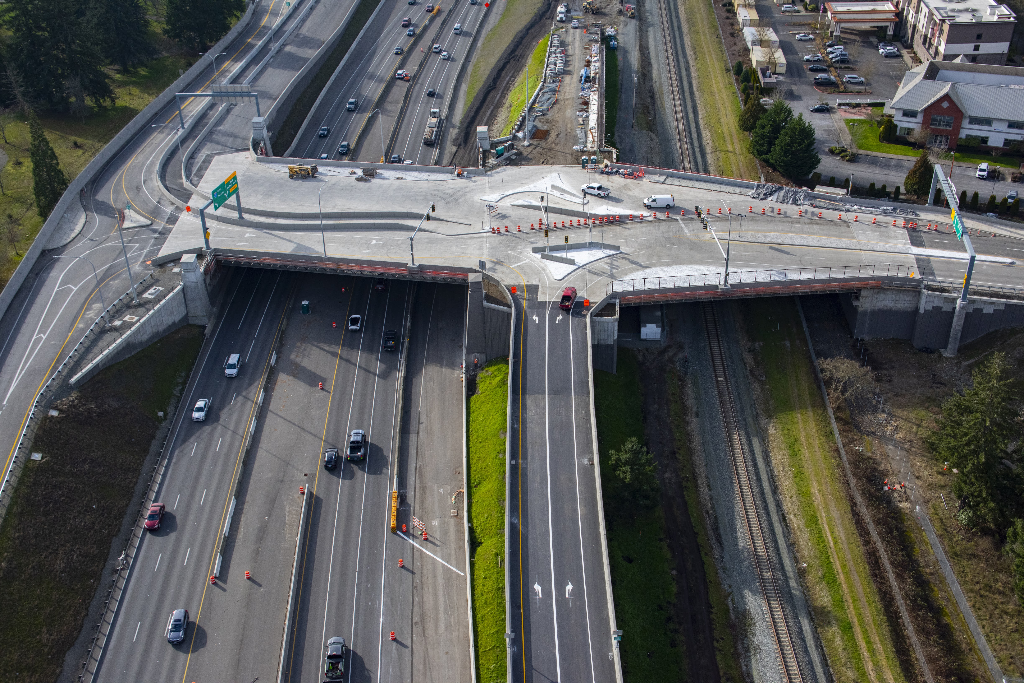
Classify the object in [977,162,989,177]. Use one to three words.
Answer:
vehicle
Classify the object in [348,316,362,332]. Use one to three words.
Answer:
car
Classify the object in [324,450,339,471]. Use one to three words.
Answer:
car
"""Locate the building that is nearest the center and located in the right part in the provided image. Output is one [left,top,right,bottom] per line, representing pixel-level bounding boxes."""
[636,307,664,339]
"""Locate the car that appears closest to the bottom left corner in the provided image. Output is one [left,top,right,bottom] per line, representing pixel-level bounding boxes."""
[167,608,189,644]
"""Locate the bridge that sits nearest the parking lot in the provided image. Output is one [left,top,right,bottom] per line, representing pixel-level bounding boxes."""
[151,145,1024,376]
